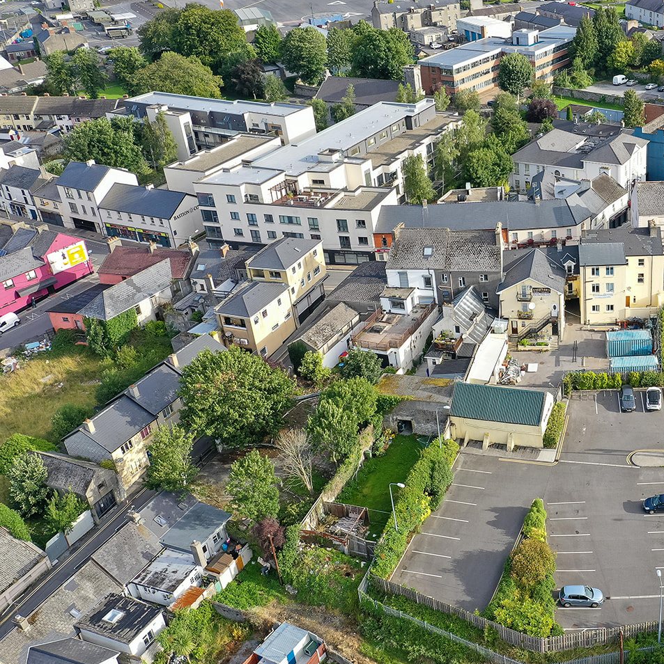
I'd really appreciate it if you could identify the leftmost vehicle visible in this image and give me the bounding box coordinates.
[0,313,26,334]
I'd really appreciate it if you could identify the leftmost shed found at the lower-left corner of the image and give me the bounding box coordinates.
[0,530,57,620]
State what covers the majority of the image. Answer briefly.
buildings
